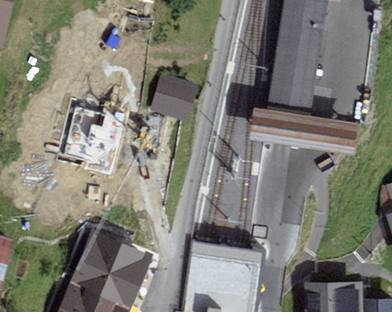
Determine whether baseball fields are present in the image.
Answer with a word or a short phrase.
No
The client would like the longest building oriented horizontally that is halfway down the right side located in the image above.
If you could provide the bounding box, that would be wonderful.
[250,108,359,155]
